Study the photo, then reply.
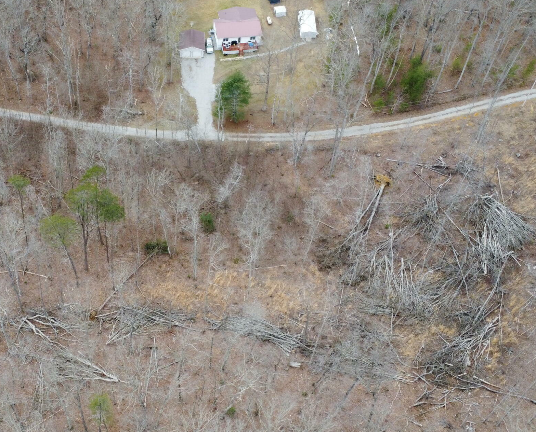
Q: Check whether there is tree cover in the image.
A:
Yes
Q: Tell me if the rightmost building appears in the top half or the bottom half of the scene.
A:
top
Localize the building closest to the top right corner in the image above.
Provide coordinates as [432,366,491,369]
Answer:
[300,2,320,41]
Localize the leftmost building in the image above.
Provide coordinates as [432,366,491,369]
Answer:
[176,25,205,57]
